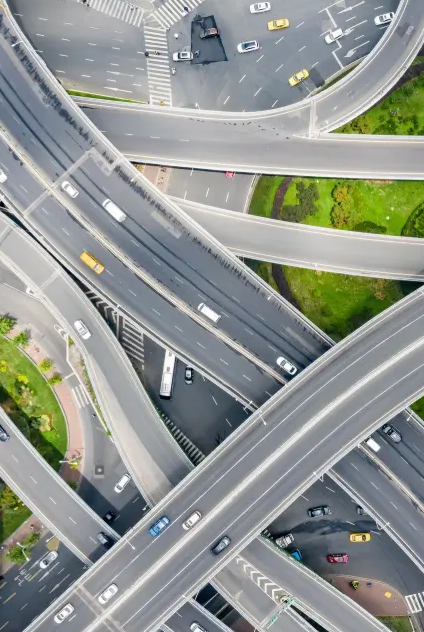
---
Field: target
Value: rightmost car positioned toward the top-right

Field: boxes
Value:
[373,11,395,26]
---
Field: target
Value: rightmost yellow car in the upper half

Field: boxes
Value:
[287,68,309,86]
